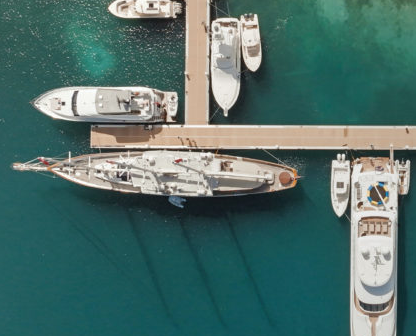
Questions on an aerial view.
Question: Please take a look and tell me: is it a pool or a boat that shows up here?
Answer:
boat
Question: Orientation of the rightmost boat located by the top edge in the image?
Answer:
vertically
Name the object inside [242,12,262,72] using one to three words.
boat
